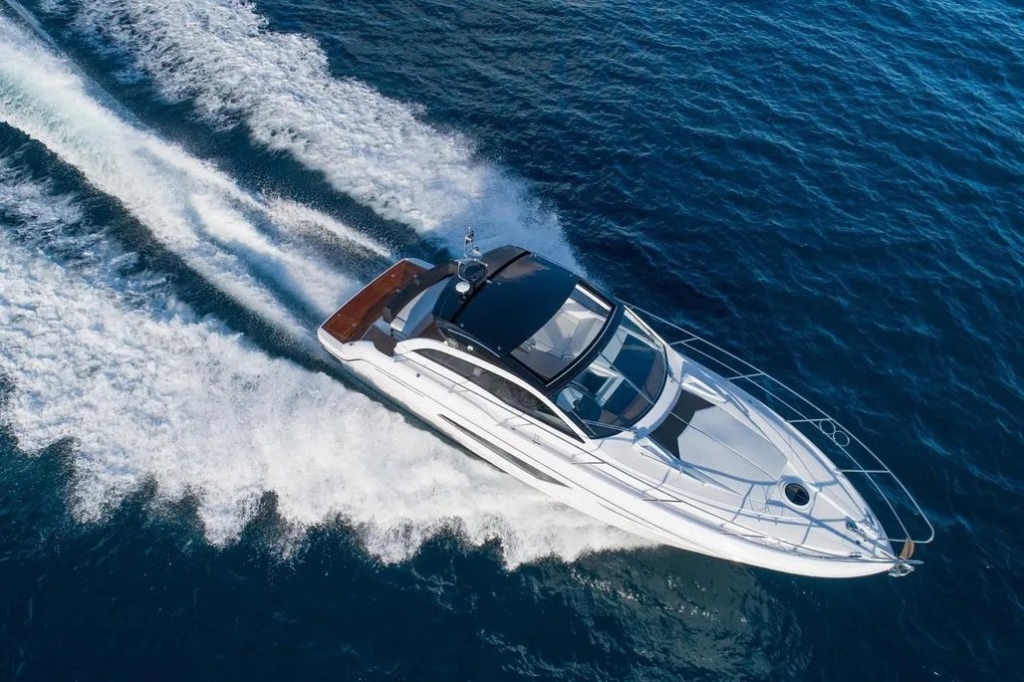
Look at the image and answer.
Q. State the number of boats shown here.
1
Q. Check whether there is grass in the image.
No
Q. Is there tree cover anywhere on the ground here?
No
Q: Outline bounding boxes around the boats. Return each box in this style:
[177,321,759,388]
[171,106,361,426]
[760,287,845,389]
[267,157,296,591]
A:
[318,222,935,575]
